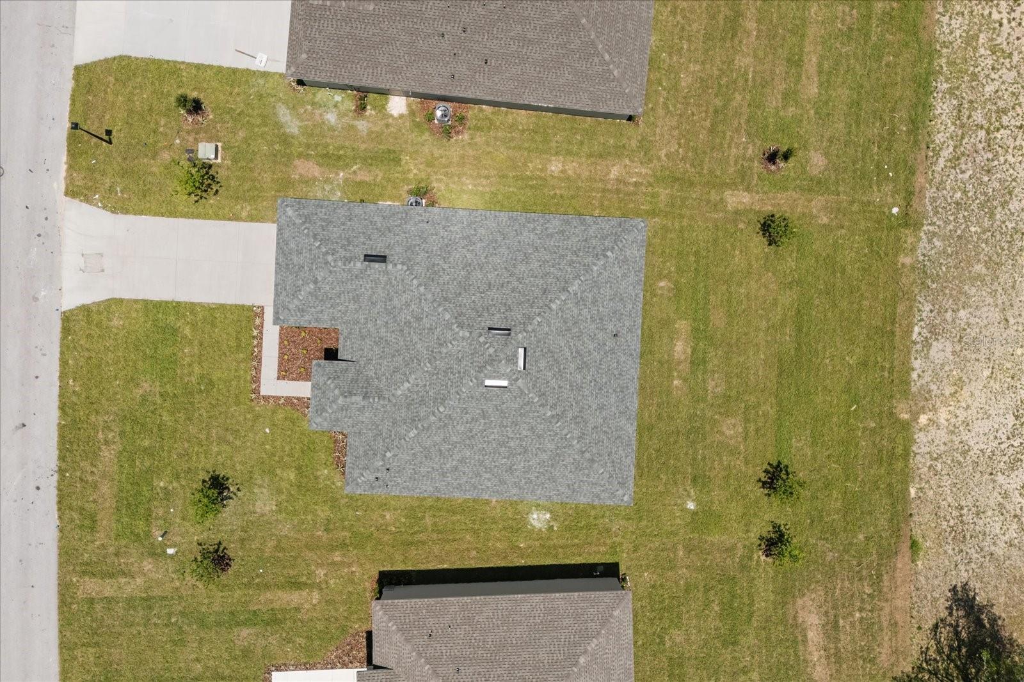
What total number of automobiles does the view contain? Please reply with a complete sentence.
The count of automobiles is 0.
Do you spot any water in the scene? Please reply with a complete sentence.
No, there is no water in the image.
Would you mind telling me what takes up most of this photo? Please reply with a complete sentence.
The scene is dominated by grass.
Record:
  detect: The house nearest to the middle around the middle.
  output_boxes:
[272,197,649,507]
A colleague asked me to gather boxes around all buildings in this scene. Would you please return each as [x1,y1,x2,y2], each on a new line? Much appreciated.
[355,578,633,682]
[272,197,649,507]
[285,0,654,121]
